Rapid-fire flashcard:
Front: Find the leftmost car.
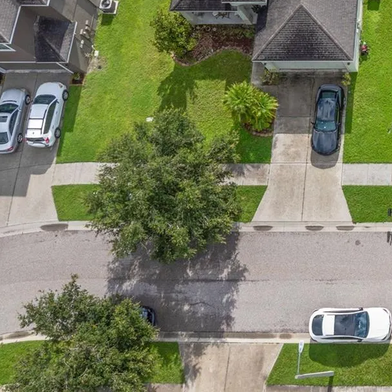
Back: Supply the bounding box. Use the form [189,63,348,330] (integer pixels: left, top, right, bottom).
[0,89,32,154]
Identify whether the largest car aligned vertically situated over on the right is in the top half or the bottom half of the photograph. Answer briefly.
top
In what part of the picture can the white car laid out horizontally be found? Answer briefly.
bottom right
